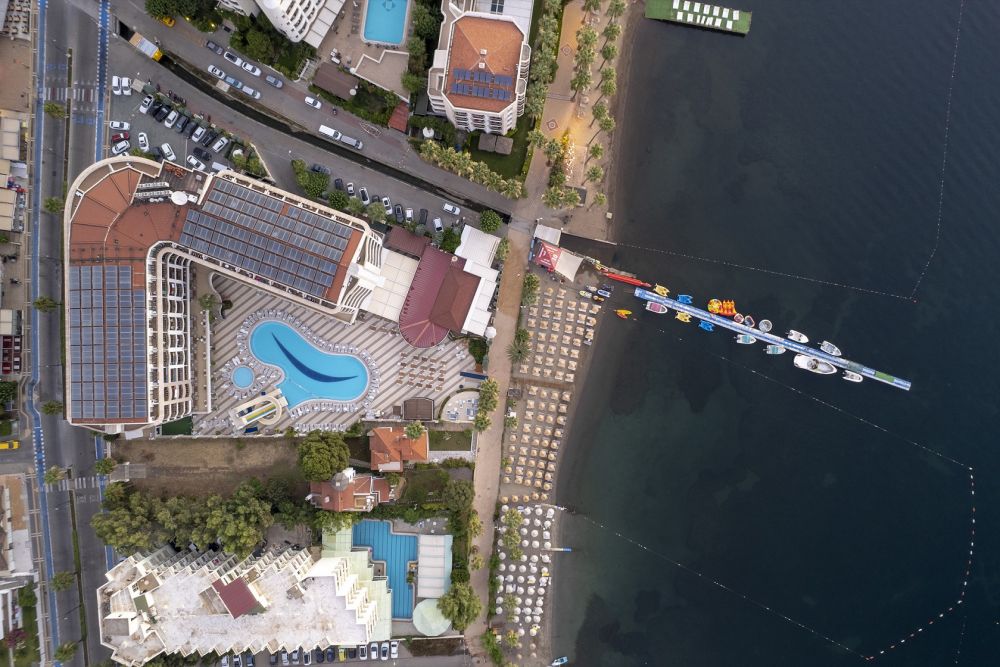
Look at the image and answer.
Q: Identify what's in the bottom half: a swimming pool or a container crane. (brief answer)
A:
swimming pool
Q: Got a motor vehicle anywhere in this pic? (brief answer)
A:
Yes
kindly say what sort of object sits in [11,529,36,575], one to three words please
building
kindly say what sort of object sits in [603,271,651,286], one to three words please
boat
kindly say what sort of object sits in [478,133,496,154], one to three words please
gazebo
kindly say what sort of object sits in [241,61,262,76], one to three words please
car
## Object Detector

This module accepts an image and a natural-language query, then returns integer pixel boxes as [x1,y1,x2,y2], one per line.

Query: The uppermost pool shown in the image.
[361,0,410,45]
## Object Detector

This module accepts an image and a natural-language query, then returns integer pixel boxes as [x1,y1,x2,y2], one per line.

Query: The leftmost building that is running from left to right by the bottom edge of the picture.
[98,529,387,667]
